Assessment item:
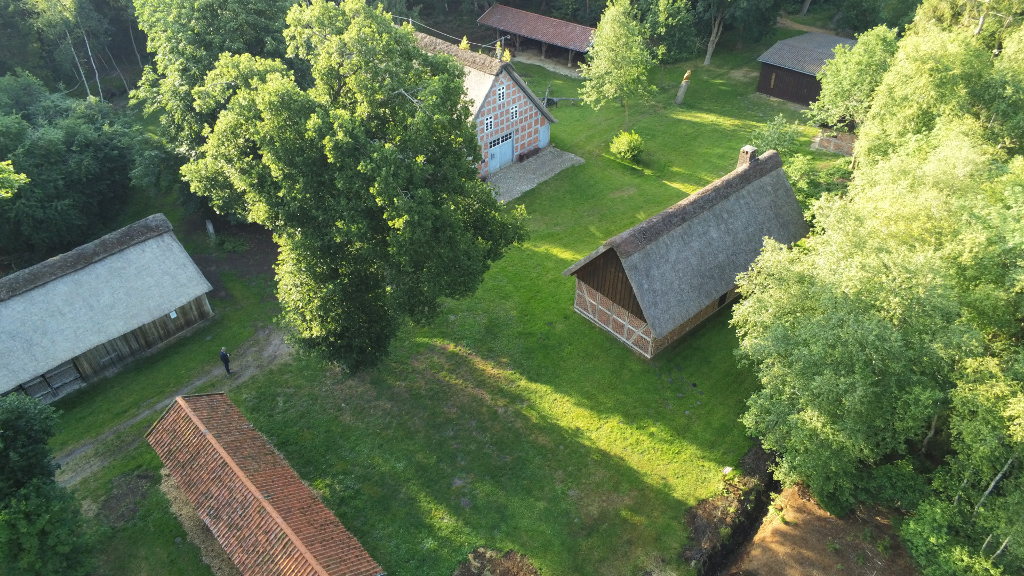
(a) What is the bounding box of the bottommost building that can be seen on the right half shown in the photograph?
[561,149,809,360]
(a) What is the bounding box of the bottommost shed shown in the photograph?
[143,391,391,576]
